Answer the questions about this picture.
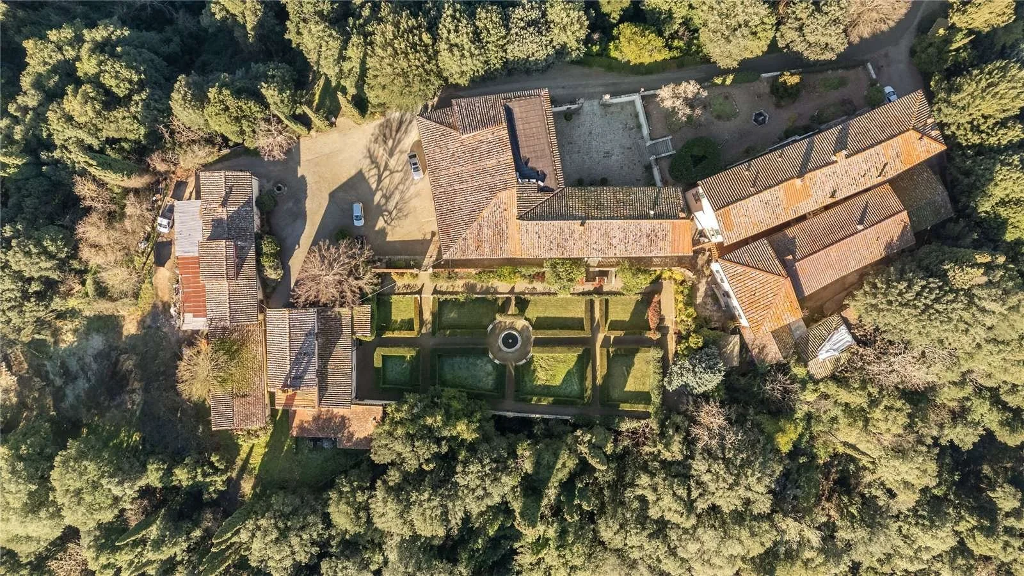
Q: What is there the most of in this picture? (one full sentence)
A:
The largest share of the image is taken up by trees.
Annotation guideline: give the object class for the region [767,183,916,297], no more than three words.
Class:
house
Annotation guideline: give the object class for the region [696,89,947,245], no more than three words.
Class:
house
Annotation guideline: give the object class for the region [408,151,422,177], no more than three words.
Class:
car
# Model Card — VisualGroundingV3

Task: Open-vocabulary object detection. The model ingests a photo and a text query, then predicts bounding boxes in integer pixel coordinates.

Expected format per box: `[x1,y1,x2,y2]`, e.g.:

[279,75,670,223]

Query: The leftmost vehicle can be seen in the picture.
[154,203,173,232]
